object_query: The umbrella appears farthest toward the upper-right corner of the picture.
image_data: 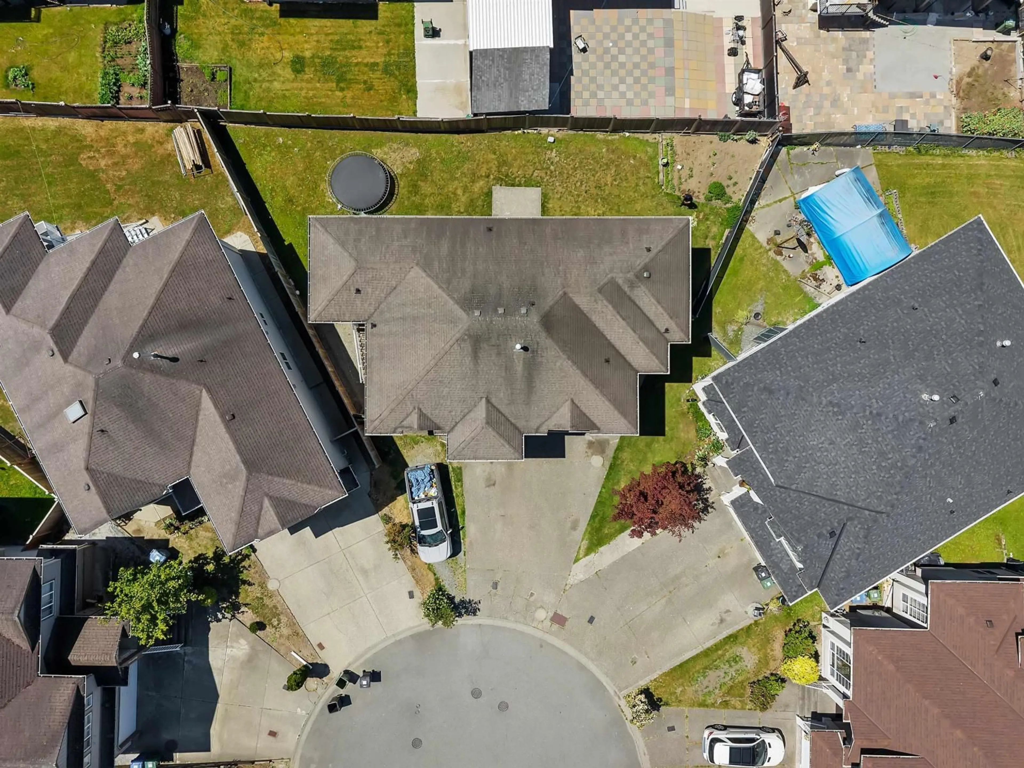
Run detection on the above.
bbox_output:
[778,233,809,254]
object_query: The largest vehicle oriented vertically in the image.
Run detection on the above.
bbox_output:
[404,461,454,565]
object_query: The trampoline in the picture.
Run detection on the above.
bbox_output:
[326,150,391,214]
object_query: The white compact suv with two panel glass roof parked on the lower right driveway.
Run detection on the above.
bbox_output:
[702,724,787,768]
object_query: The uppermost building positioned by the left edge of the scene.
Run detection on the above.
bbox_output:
[0,208,358,557]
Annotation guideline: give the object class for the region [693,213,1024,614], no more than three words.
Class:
house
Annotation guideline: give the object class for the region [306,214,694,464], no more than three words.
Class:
house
